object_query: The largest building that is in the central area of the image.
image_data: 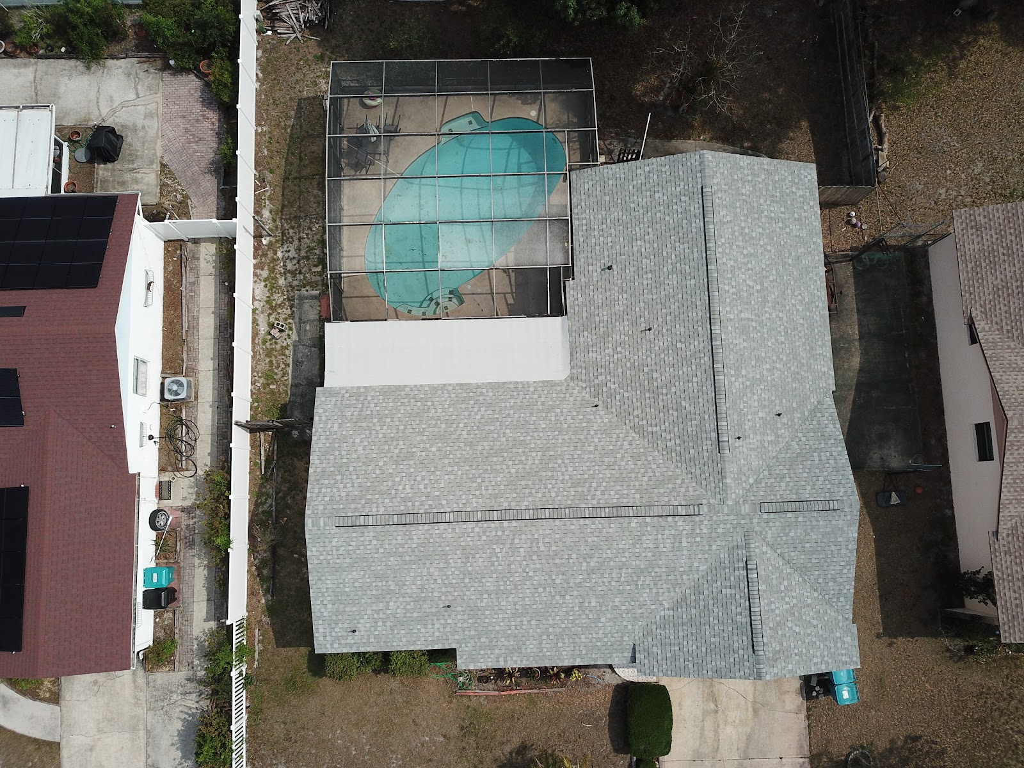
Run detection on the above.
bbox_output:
[305,151,861,680]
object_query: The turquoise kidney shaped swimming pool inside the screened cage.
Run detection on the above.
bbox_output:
[365,111,566,316]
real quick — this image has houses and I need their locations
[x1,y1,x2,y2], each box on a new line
[927,201,1024,643]
[0,191,164,681]
[305,151,861,680]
